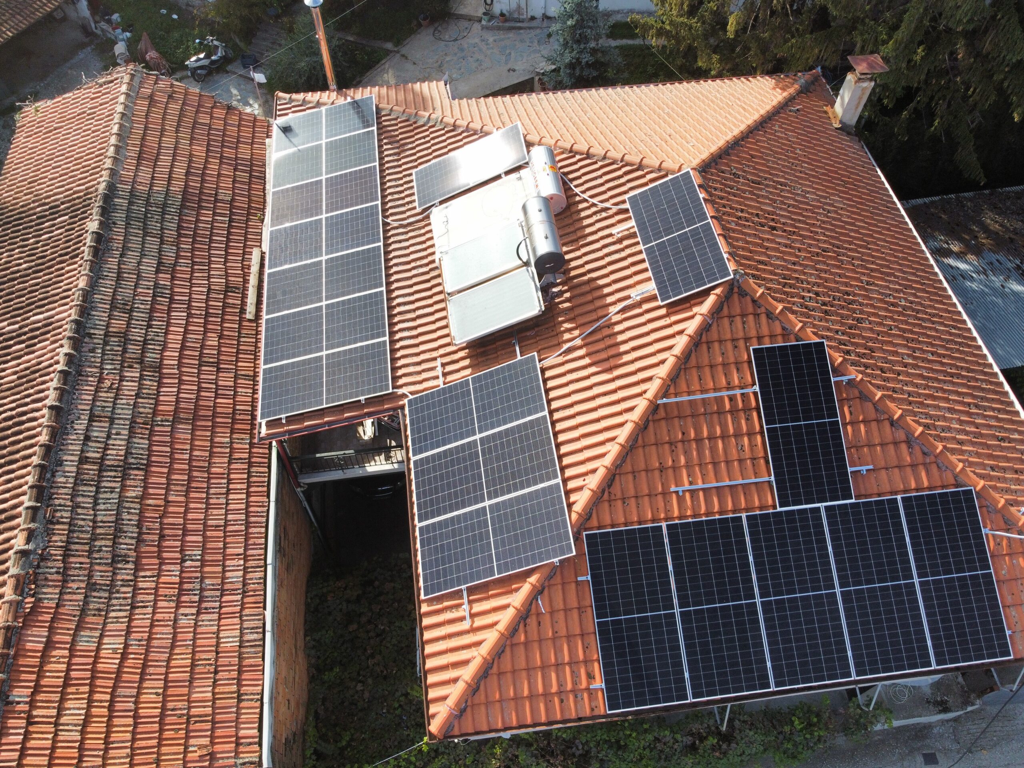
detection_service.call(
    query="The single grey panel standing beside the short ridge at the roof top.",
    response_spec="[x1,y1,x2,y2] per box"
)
[627,169,733,306]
